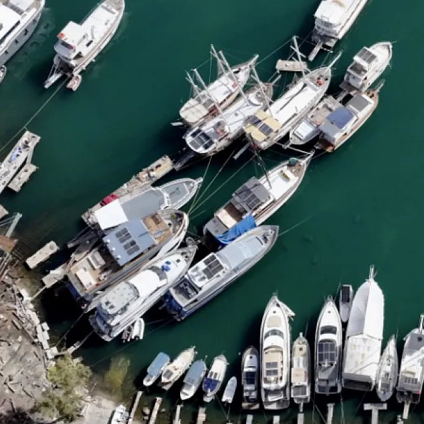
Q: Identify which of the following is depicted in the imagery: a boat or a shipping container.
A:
boat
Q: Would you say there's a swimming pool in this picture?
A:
No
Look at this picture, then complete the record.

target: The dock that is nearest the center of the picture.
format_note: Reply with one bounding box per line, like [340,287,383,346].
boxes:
[83,154,176,224]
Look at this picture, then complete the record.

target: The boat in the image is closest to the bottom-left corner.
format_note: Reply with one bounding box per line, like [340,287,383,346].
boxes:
[113,406,129,424]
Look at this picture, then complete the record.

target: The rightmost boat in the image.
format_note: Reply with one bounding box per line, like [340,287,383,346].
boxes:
[397,314,424,419]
